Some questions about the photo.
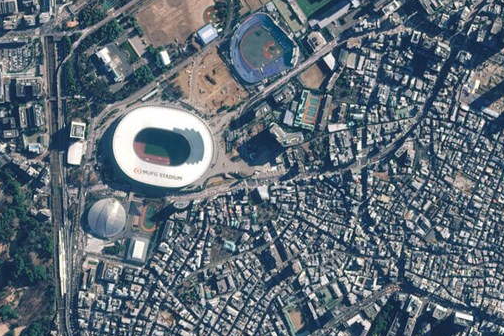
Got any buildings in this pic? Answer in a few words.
Yes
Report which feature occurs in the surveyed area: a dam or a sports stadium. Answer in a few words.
sports stadium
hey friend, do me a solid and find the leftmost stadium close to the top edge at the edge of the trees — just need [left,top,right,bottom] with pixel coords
[231,12,299,85]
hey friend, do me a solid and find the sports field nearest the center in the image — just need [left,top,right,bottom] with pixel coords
[144,132,182,159]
